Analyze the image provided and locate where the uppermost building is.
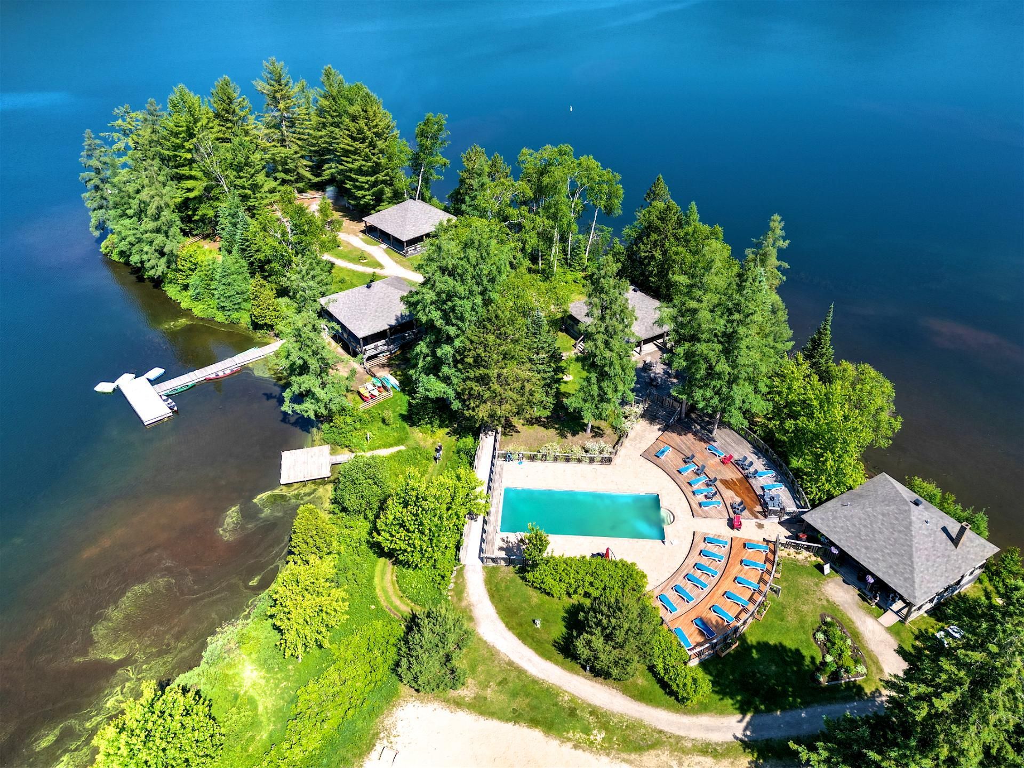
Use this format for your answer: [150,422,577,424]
[362,199,451,258]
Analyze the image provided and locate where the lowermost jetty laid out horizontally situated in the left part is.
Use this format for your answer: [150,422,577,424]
[279,446,353,486]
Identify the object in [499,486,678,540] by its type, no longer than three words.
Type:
swimming pool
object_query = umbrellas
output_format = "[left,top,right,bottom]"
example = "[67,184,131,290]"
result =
[605,541,626,565]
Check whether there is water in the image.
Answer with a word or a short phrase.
Yes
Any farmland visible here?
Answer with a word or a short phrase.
No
